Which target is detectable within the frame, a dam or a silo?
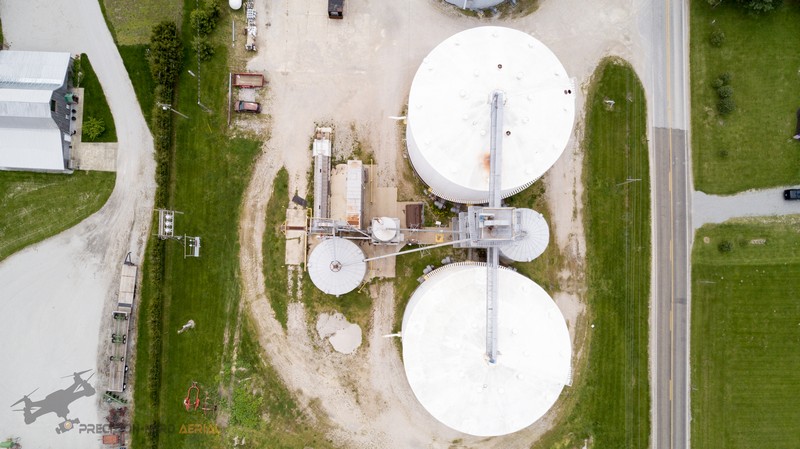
silo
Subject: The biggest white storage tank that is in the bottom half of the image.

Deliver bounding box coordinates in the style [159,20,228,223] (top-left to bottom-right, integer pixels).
[383,262,579,437]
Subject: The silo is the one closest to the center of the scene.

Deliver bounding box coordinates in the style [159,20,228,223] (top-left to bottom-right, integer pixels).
[371,217,405,245]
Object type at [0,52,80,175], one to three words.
house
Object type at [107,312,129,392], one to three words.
trailer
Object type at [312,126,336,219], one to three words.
shed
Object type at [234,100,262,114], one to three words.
car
